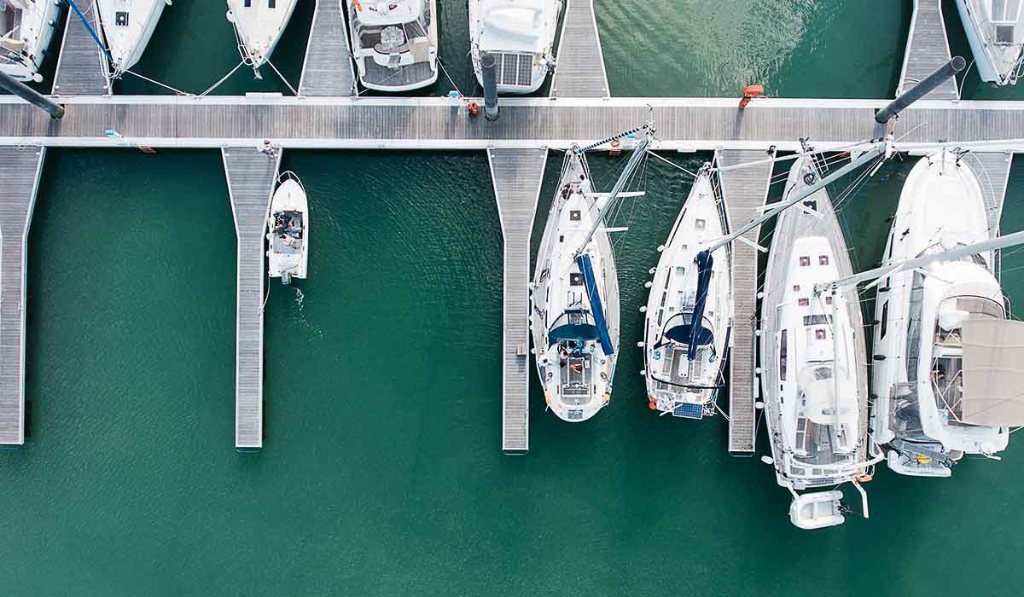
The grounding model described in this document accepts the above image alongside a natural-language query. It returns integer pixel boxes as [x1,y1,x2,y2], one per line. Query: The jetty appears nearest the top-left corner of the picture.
[52,0,114,96]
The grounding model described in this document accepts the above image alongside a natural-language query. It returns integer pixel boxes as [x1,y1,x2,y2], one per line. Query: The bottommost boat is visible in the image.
[787,488,852,531]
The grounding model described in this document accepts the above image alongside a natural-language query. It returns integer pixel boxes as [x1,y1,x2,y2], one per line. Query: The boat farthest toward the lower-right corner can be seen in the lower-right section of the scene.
[884,440,954,480]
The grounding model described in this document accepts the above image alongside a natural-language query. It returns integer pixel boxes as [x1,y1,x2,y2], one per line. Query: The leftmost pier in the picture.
[0,147,49,449]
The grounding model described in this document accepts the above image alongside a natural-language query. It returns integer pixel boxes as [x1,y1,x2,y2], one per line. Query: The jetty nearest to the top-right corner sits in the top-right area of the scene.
[893,0,958,101]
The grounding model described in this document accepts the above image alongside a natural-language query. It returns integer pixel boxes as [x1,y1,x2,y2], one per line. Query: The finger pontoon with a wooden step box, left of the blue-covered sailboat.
[489,150,546,455]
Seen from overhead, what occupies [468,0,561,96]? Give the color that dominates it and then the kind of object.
white boat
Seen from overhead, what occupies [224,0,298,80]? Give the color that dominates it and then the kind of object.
white boat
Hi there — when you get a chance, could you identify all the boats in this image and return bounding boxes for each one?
[468,0,561,96]
[868,142,1024,466]
[787,488,852,531]
[349,0,443,94]
[644,117,937,419]
[755,137,1024,518]
[531,97,663,422]
[224,0,298,80]
[269,170,310,282]
[949,0,1024,92]
[69,0,162,79]
[884,440,954,480]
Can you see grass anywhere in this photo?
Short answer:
No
